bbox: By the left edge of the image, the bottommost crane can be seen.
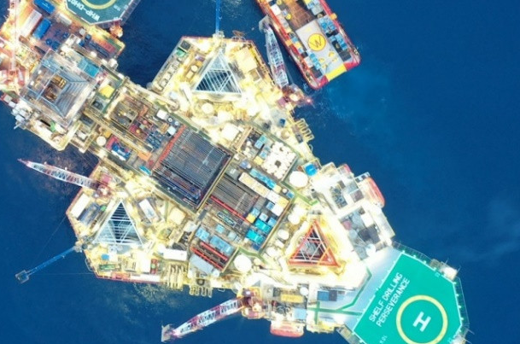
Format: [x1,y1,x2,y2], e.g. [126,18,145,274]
[21,156,118,200]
